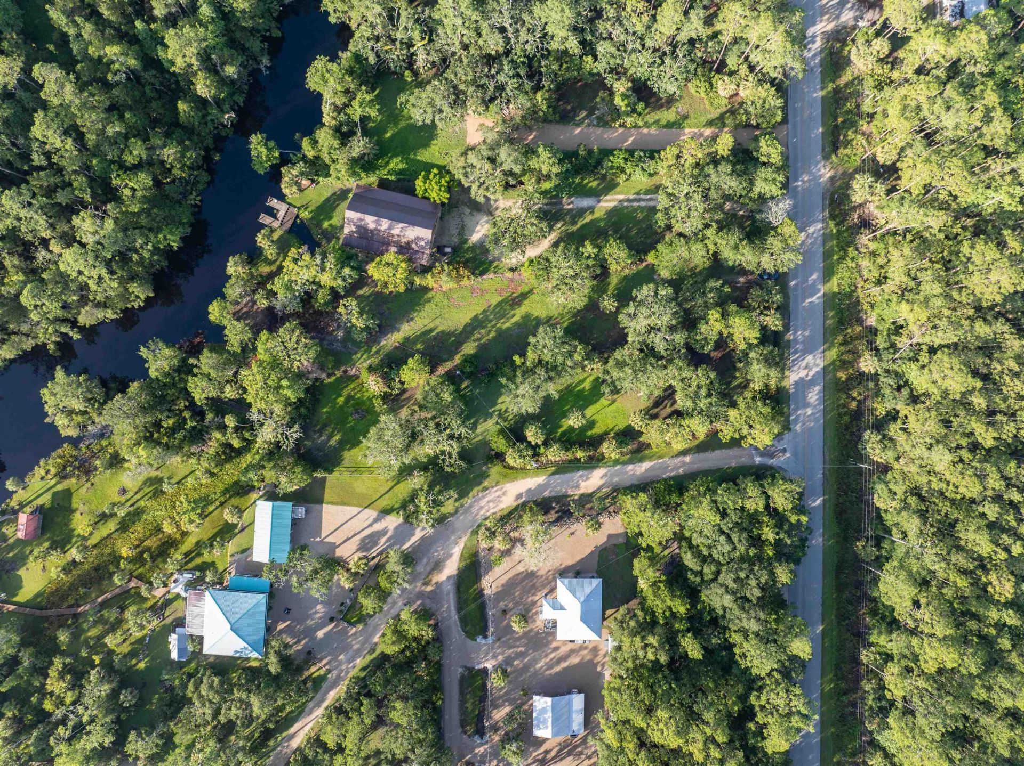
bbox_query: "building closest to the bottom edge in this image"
[533,691,585,741]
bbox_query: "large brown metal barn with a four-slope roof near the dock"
[343,184,440,264]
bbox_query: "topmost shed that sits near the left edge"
[17,503,50,539]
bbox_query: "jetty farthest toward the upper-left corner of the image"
[257,196,299,232]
